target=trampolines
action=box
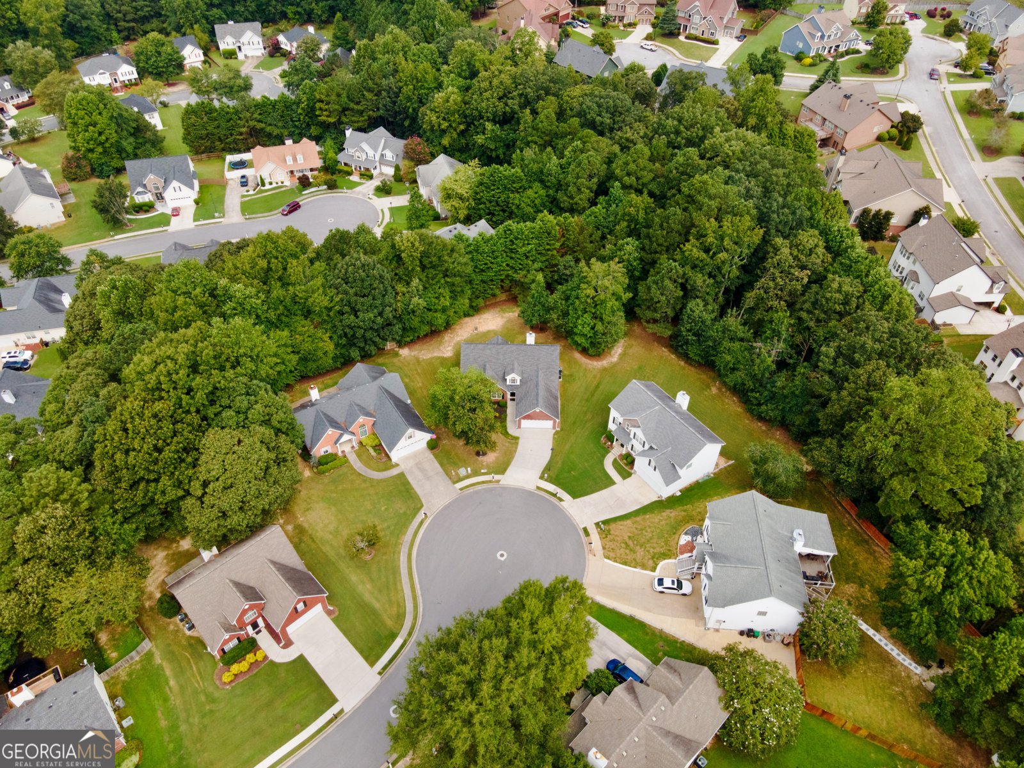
[0,651,45,693]
[228,158,249,169]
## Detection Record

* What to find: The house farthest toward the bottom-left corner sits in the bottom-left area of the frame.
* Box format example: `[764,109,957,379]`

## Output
[0,647,128,768]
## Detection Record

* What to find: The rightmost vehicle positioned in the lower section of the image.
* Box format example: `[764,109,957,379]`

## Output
[653,574,694,594]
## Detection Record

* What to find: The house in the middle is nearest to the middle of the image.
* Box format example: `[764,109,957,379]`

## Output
[459,324,560,432]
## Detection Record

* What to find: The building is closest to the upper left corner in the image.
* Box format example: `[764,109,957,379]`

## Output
[0,72,38,115]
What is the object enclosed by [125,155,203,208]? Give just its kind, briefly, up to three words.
house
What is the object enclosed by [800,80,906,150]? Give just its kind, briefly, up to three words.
house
